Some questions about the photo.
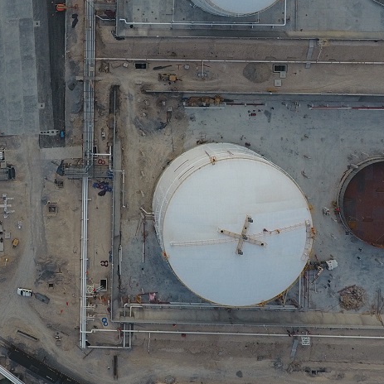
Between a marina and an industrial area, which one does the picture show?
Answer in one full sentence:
It's an industrial area.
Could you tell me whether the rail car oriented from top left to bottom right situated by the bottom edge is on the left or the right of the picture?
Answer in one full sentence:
The rail car oriented from top left to bottom right situated by the bottom edge appears in the left half of the scene.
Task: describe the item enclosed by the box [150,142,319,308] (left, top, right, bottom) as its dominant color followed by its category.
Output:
white storage tank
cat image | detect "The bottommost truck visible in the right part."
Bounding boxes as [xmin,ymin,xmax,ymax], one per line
[315,259,339,286]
